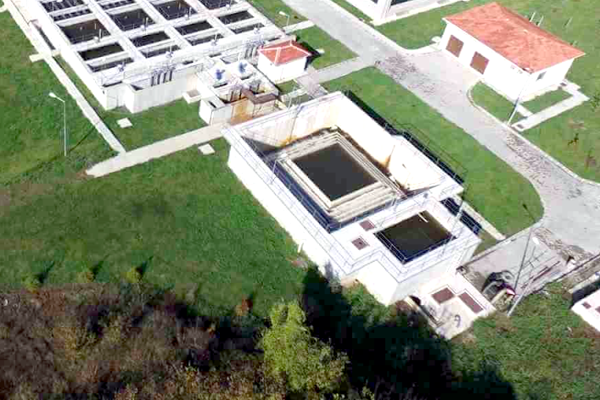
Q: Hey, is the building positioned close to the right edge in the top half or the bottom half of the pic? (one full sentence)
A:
Seen from above, the building positioned close to the right edge lies in the top half of the view.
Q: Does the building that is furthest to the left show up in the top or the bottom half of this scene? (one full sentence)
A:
You can find the building that is furthest to the left in the top half.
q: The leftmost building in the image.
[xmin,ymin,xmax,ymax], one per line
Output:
[258,37,313,79]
